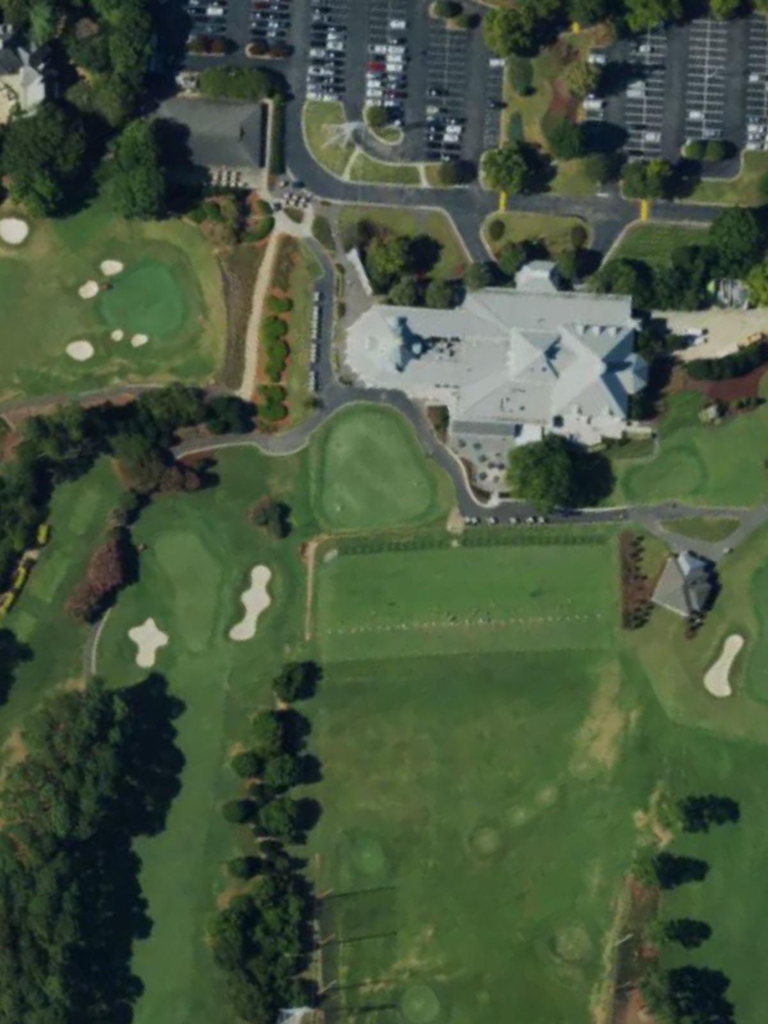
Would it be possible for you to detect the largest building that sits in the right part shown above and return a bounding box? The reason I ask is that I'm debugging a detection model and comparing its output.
[342,261,648,452]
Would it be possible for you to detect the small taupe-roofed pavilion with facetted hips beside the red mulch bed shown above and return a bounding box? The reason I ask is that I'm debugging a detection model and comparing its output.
[651,549,712,617]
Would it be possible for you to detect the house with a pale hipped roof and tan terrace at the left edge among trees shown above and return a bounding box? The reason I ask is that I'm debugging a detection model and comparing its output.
[0,26,45,125]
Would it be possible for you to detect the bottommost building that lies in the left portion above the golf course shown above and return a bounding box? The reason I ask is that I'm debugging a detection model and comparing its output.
[158,99,262,168]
